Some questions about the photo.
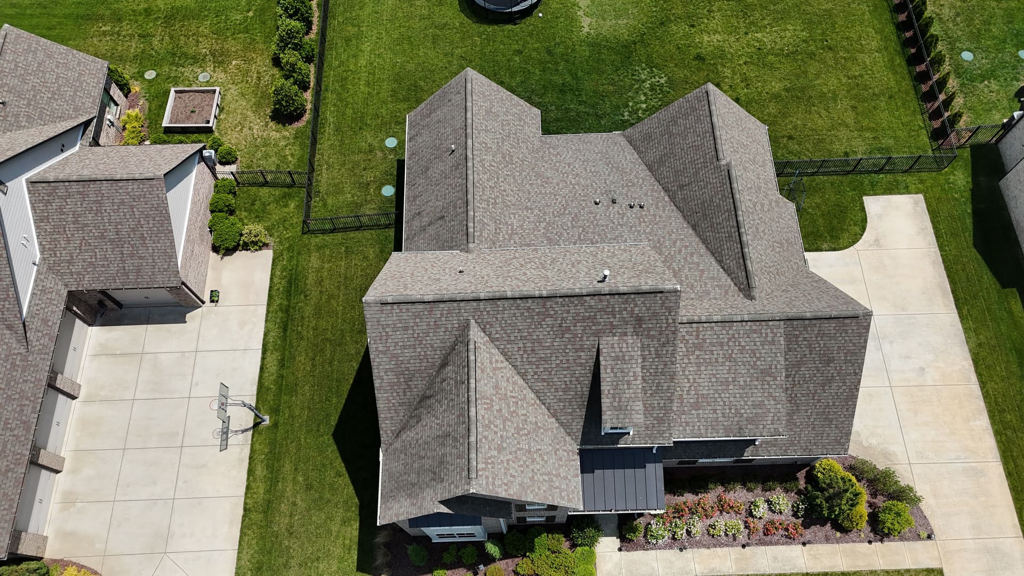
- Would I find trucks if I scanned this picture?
No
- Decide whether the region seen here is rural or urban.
urban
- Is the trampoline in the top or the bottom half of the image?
top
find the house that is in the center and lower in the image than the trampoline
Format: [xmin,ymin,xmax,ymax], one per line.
[362,67,872,545]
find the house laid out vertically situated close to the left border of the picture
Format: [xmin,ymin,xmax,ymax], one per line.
[0,23,218,559]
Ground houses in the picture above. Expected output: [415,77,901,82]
[362,67,872,545]
[993,100,1024,256]
[0,23,218,559]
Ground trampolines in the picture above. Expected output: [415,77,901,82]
[474,0,539,27]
